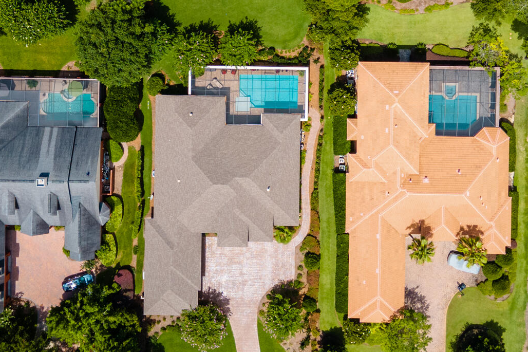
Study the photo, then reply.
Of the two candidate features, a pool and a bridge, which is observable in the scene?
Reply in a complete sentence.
Of the two, only a pool appears.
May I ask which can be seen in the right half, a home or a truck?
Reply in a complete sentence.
It is a home that can be seen in the right half.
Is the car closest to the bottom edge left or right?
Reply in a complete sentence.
The car closest to the bottom edge sits on the left side.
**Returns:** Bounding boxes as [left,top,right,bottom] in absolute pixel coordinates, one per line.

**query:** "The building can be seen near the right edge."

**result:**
[345,62,512,323]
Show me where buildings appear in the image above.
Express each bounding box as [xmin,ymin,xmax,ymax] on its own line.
[345,62,512,323]
[141,95,300,315]
[0,99,114,310]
